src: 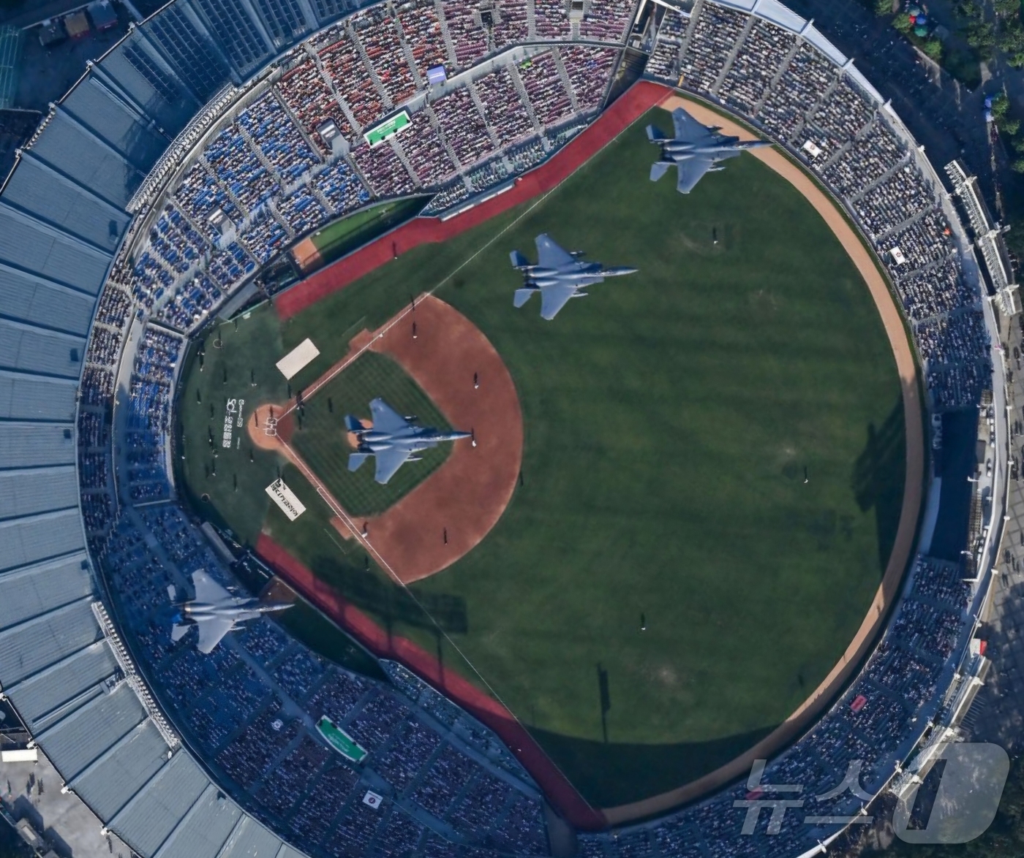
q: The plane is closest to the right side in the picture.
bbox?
[644,108,771,194]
